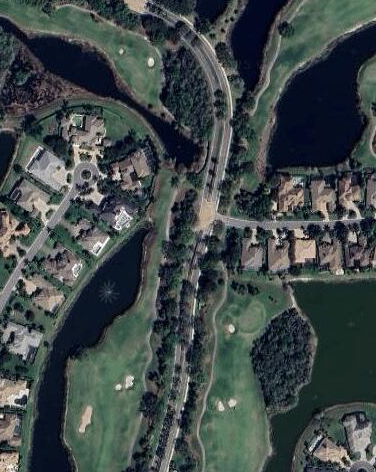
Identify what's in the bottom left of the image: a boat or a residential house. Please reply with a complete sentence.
Looking in the bottom left of the image, you will find a residential house.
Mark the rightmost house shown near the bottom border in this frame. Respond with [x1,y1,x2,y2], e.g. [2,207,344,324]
[345,409,371,453]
